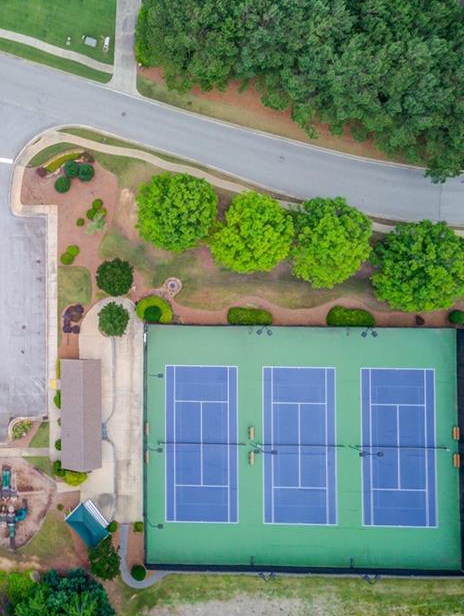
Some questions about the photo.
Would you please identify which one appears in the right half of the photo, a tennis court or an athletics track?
tennis court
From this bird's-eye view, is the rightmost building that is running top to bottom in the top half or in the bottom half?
bottom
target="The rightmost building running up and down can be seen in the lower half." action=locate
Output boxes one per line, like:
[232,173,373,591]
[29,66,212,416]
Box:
[60,359,101,472]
